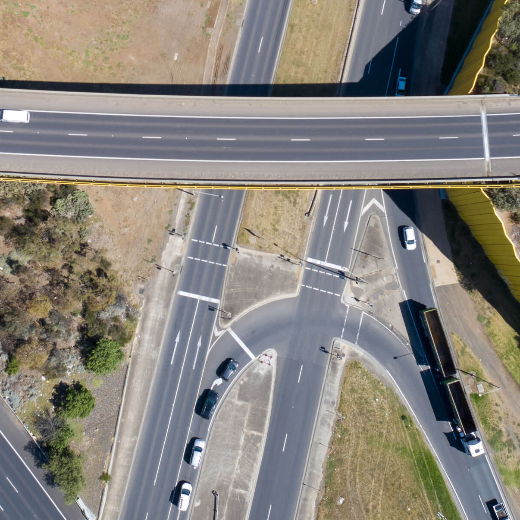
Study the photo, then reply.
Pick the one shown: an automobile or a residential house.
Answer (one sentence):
This aerial view contains an automobile.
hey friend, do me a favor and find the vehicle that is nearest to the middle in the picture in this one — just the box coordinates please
[220,358,239,383]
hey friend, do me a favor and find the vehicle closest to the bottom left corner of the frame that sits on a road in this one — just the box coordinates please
[177,480,192,515]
